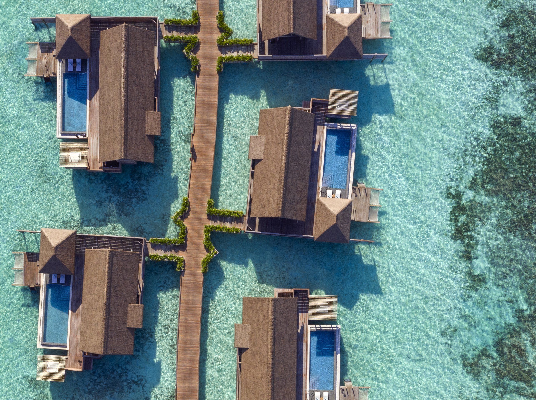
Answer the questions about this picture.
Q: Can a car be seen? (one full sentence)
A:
No, I can see no car in this picture.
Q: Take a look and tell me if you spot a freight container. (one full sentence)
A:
No, there isn't any freight container down there.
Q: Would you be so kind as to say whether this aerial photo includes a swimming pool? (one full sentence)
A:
Yes, the image includes a swimming pool.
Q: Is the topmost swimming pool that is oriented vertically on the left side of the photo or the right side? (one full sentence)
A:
The topmost swimming pool that is oriented vertically sits on the left side.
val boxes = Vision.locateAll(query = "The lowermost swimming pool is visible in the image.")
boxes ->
[307,325,341,400]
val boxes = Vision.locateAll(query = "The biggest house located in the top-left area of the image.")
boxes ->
[58,22,162,173]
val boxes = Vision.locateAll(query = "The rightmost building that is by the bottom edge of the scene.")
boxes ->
[234,287,310,400]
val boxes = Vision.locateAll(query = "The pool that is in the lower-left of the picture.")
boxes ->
[35,274,72,351]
